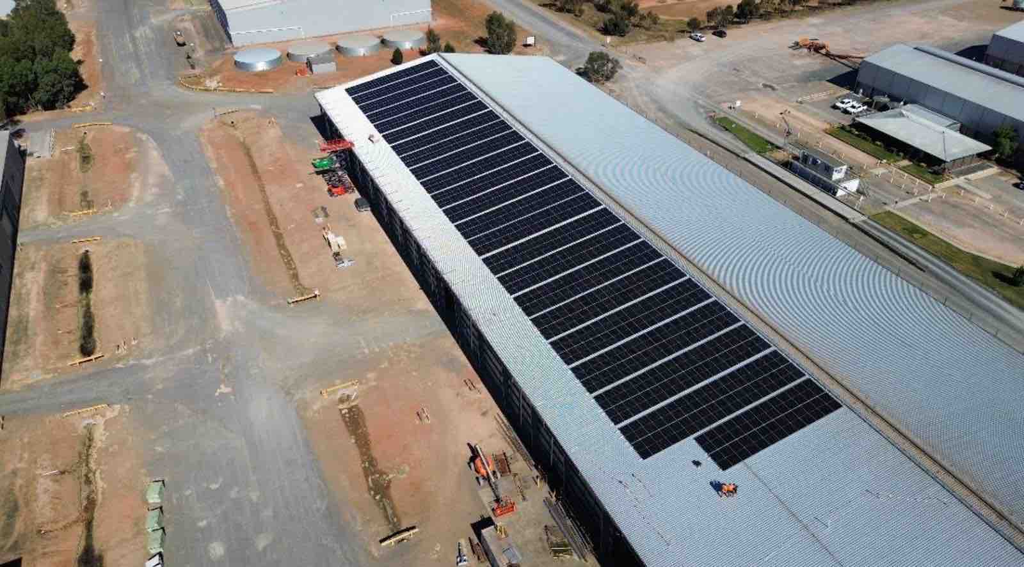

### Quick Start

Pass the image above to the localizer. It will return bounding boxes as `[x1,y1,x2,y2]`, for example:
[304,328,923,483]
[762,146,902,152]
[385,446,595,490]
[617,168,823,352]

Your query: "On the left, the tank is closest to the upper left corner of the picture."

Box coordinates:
[232,47,284,70]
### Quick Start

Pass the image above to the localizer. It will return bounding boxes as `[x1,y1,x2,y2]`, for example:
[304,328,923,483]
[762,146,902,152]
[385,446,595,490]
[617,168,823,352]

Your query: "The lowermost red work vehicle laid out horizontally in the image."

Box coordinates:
[327,183,362,199]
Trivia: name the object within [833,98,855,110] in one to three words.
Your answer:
vehicle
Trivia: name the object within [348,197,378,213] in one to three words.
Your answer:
car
